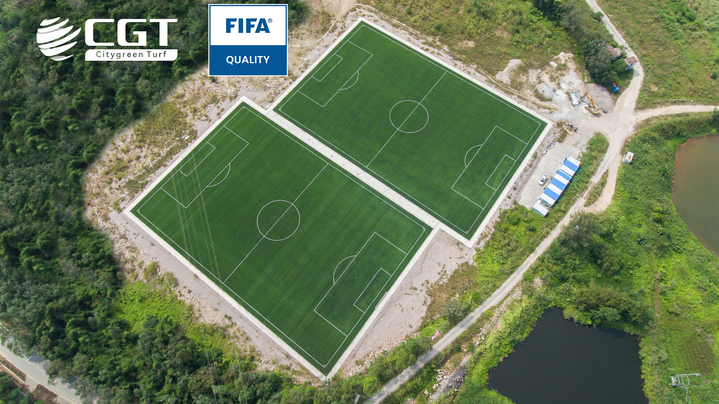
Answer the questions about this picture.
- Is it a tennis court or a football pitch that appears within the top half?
football pitch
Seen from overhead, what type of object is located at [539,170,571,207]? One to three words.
building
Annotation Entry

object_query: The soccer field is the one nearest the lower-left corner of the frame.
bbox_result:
[124,96,440,384]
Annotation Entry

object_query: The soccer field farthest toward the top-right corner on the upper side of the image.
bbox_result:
[267,17,553,247]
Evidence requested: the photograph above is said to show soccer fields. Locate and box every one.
[267,17,553,247]
[124,96,440,384]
